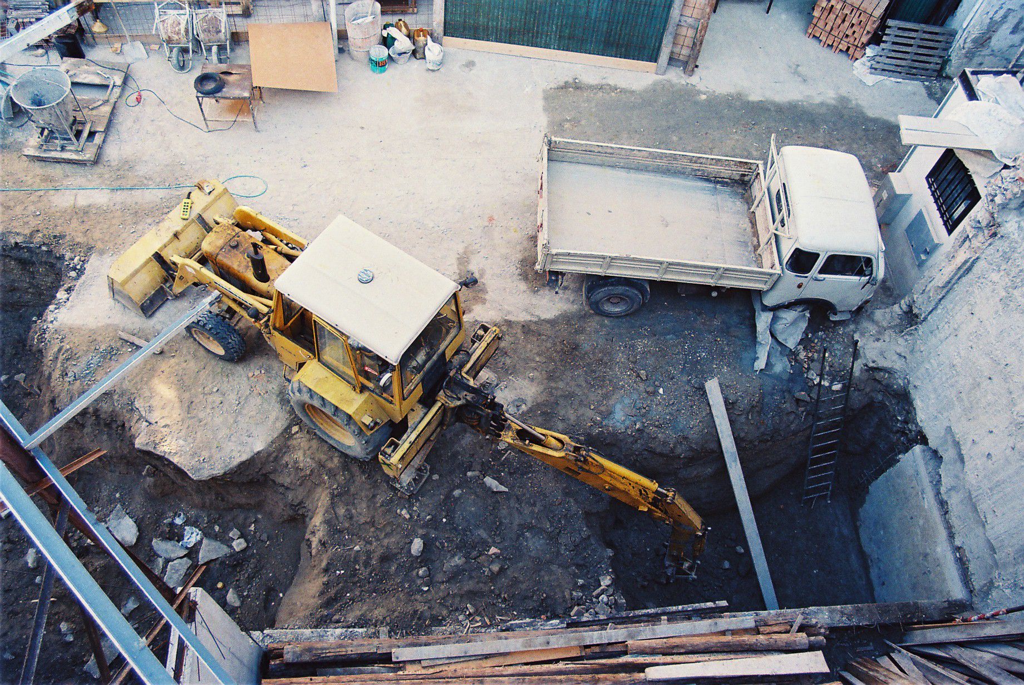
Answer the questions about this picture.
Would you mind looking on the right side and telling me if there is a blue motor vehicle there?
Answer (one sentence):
No, no blue motor vehicle appears on the right side.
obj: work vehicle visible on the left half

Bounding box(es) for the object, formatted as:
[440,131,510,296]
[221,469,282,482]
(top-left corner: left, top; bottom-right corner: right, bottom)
[101,179,707,607]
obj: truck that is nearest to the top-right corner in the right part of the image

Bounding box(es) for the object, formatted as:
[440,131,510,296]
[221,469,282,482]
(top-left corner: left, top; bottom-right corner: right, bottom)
[538,117,892,328]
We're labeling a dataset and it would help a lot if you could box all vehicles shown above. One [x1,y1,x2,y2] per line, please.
[101,179,707,607]
[538,117,892,328]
